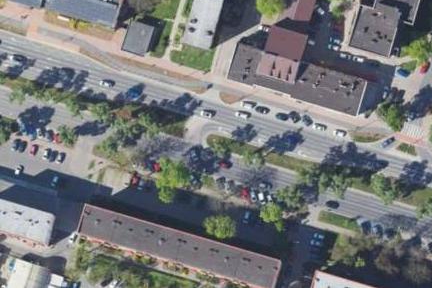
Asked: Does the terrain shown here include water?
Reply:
No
